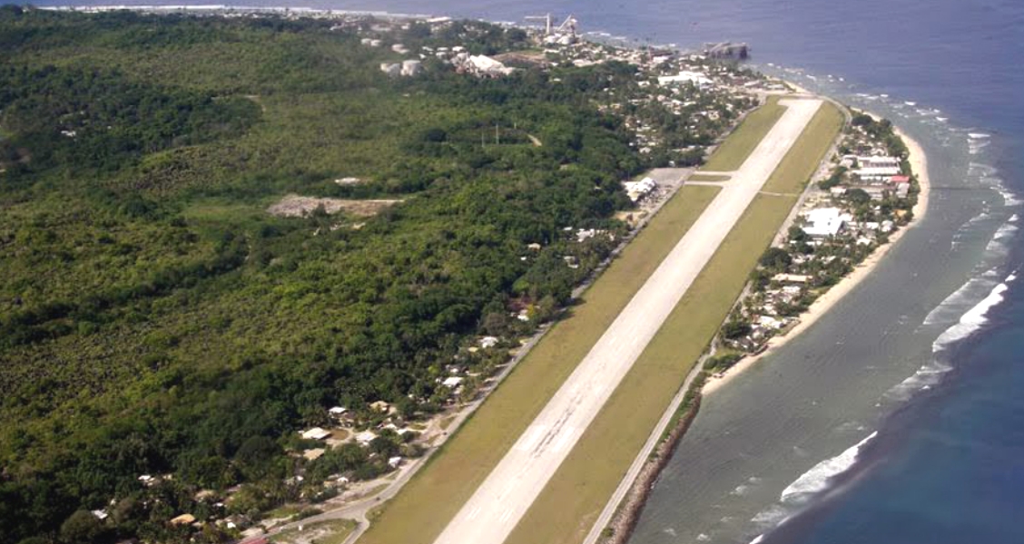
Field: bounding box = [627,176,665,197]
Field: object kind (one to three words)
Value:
building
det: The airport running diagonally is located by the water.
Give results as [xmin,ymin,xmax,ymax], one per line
[356,96,842,544]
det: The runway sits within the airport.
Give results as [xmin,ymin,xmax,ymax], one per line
[433,101,820,544]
